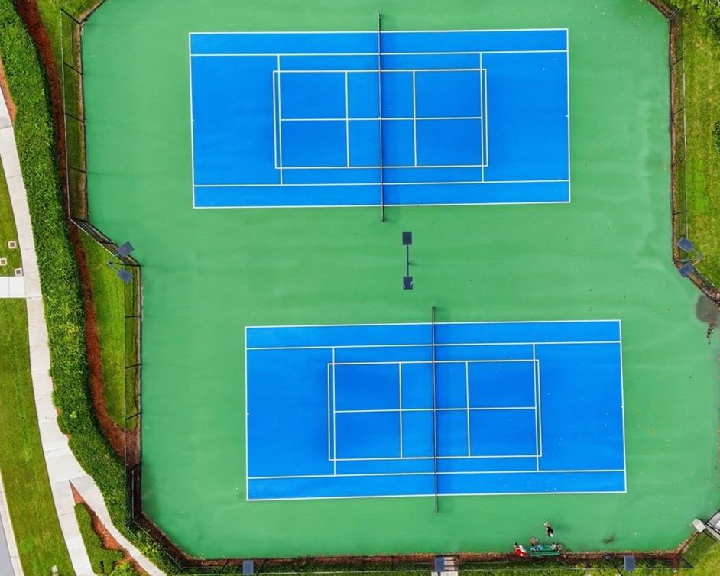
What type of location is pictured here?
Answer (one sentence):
It's a sports ground.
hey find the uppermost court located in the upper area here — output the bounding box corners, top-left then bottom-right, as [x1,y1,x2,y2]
[189,26,570,208]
